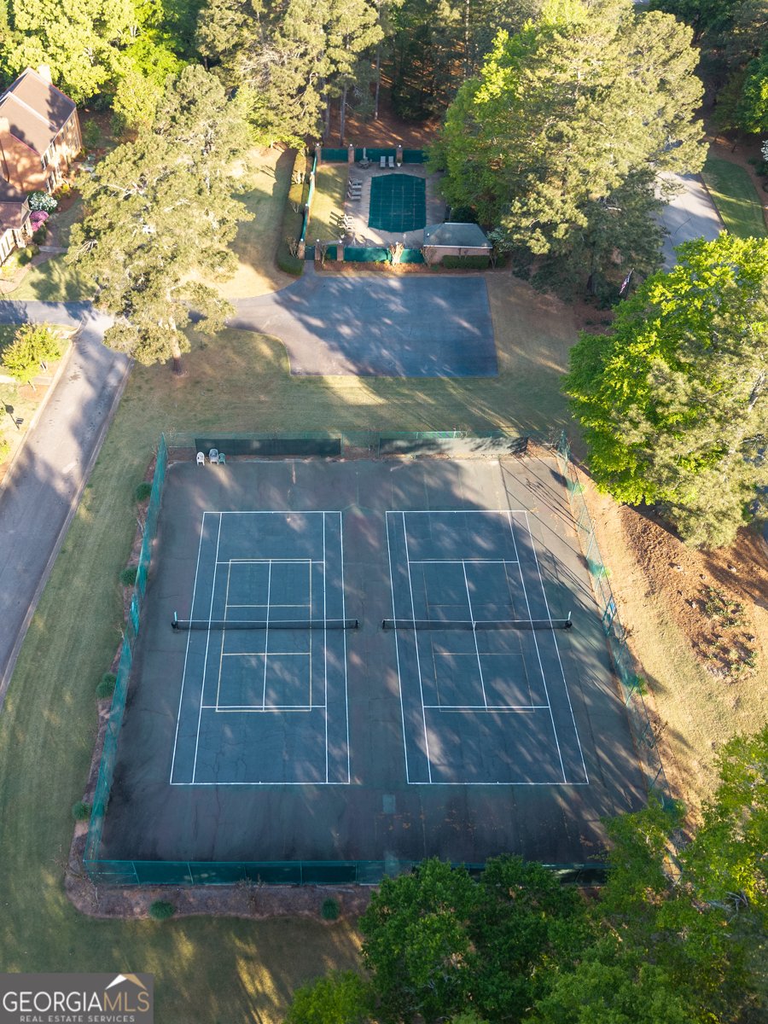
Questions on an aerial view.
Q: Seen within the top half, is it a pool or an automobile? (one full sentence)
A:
It is a pool that can be seen within the top half.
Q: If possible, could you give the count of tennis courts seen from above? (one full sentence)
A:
There are 2 tennis courts in the image.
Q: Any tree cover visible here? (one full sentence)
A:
Yes, the picture does contain tree cover.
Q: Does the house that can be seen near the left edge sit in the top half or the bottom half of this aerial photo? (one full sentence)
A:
The top half of the photo is where the house that can be seen near the left edge is.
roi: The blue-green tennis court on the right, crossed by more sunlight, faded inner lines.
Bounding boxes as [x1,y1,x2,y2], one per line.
[387,511,588,783]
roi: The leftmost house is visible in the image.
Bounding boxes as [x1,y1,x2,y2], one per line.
[0,56,82,198]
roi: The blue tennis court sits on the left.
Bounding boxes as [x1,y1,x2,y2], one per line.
[170,511,350,783]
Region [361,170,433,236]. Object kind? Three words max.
swimming pool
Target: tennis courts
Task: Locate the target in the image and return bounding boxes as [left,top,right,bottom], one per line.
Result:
[387,511,588,783]
[170,511,350,783]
